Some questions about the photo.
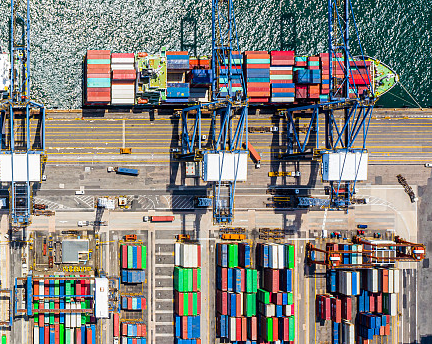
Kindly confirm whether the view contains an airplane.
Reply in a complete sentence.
No, no airplane is visible in the view.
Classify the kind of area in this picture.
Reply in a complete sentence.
The picture captures a port.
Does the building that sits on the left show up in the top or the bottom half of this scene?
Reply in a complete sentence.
The building that sits on the left is in the bottom half of the image.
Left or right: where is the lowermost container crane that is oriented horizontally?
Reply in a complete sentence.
The lowermost container crane that is oriented horizontally is on the left side of the image.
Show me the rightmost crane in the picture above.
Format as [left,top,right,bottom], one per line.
[356,237,430,263]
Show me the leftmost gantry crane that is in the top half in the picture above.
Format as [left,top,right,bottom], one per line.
[0,0,49,226]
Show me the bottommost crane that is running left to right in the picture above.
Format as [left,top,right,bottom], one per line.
[15,267,120,317]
